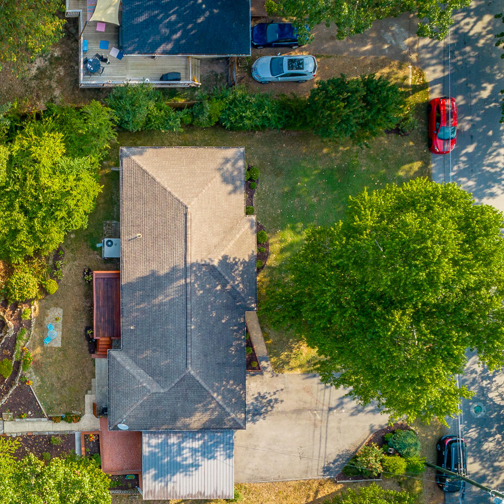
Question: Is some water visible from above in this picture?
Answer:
No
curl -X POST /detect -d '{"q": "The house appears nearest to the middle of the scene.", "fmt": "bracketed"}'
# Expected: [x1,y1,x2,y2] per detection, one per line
[104,145,258,432]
